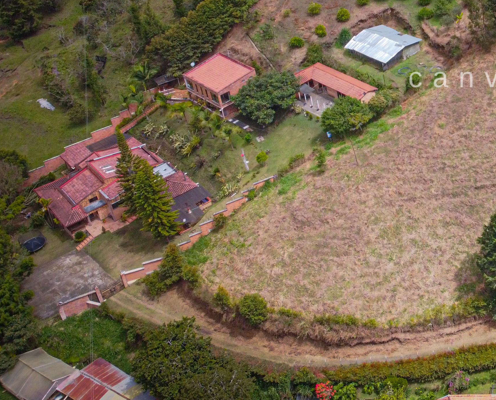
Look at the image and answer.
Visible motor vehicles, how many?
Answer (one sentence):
There are no motor vehicles in the image.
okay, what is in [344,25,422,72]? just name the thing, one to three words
shed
